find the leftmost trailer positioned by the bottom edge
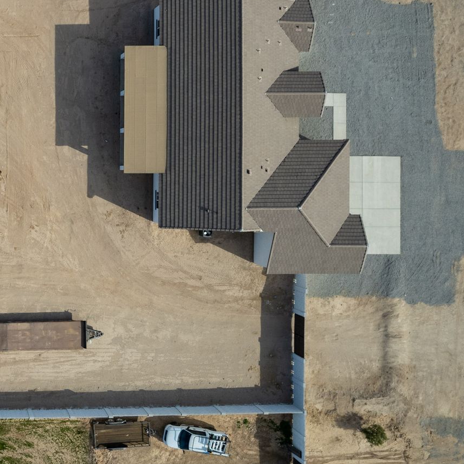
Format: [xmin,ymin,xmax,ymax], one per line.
[96,418,159,452]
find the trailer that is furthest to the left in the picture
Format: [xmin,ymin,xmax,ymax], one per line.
[0,325,103,353]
